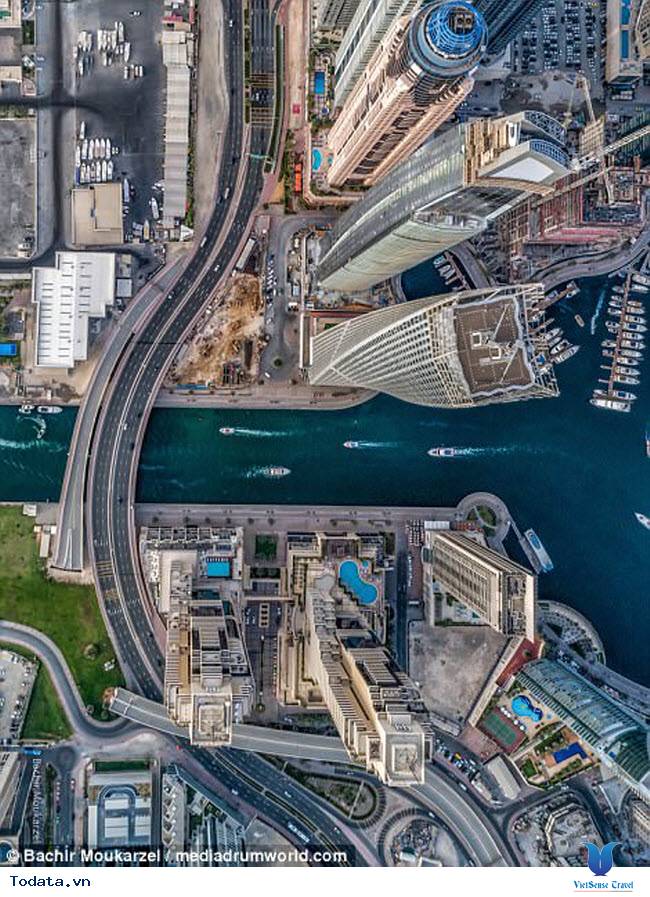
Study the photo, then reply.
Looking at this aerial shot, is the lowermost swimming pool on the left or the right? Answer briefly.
right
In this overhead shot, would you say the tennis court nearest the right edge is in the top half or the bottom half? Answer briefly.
bottom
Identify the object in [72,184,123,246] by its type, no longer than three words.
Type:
building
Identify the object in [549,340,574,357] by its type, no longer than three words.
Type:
boat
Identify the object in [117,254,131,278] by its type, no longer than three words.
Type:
shed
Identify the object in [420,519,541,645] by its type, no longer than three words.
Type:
building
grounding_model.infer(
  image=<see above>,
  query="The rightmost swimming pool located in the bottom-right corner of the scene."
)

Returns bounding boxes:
[552,741,588,763]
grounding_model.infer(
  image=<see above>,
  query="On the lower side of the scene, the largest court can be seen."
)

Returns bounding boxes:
[475,708,524,755]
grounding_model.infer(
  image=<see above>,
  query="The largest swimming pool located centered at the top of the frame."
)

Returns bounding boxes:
[314,72,326,94]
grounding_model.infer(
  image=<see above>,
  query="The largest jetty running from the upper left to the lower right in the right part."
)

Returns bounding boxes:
[508,519,540,573]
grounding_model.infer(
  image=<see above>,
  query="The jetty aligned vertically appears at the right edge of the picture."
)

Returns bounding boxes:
[604,262,634,397]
